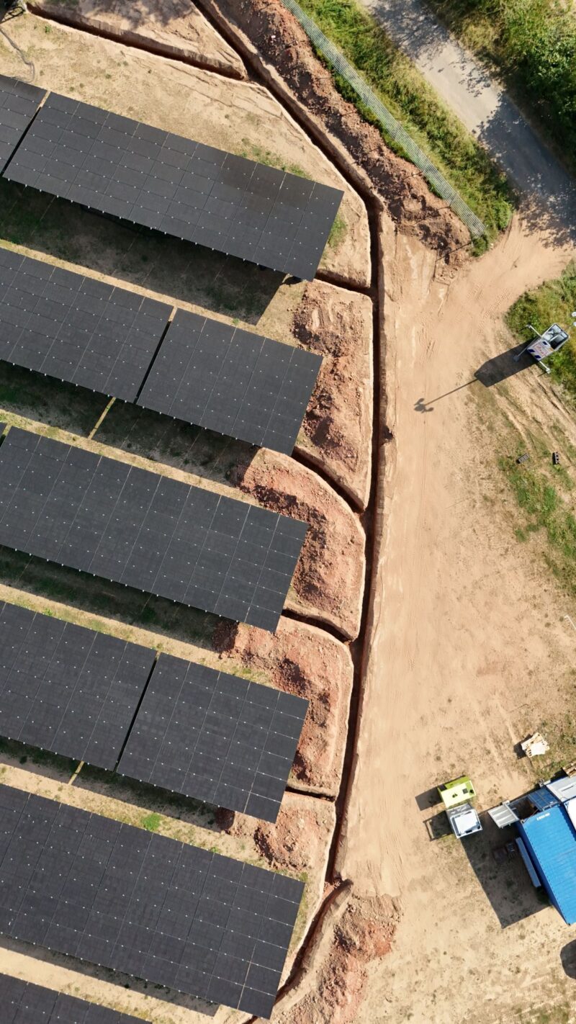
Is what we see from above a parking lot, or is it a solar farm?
solar farm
